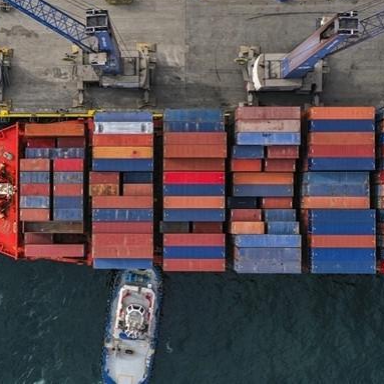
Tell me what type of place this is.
port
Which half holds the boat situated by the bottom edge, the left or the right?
left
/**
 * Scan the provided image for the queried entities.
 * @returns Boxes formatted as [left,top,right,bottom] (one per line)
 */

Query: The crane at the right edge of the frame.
[243,4,384,108]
